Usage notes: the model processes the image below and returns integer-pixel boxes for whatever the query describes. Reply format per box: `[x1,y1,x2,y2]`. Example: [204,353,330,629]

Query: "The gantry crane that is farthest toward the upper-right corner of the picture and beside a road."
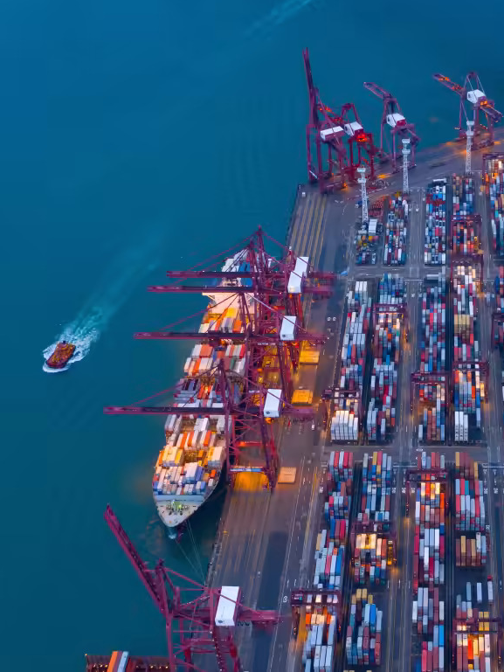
[431,69,498,151]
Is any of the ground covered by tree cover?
No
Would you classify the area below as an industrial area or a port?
port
